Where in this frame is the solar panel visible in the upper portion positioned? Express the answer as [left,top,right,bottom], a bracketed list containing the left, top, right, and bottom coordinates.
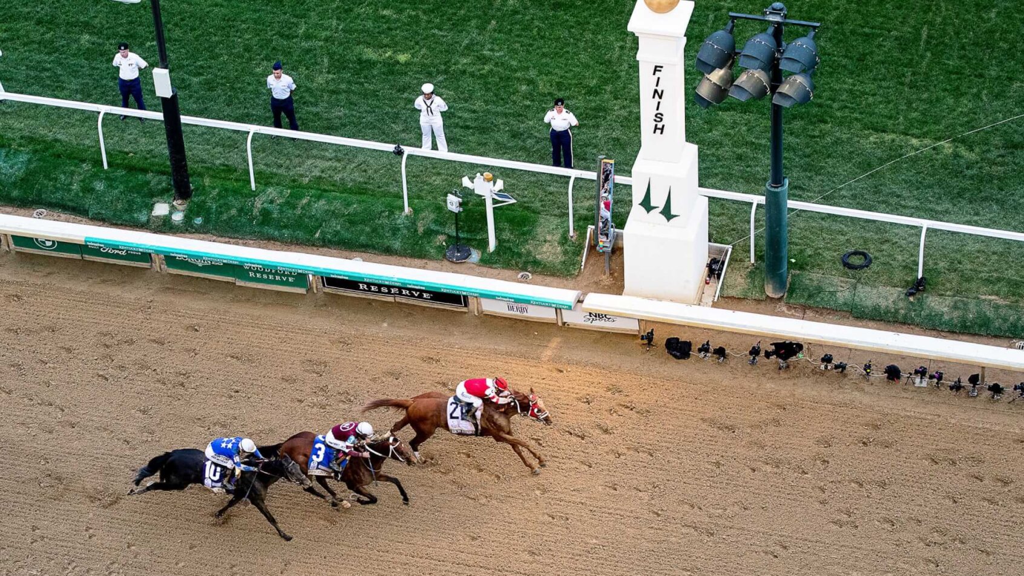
[491,189,513,207]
